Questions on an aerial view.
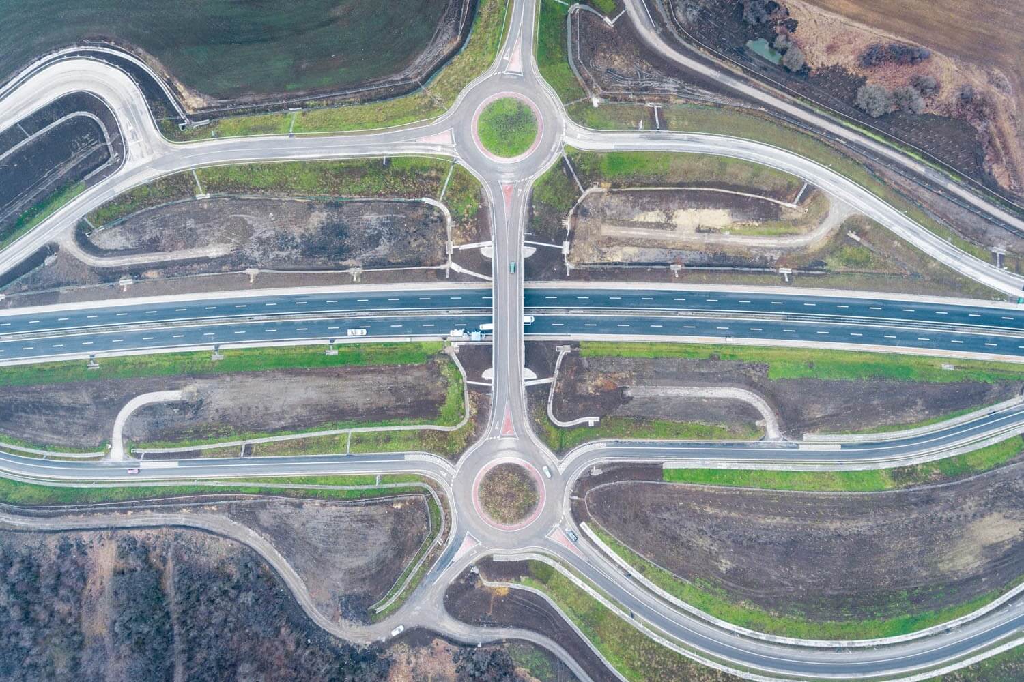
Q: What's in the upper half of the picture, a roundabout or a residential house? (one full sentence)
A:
Looking in the upper half of the picture, you will find a roundabout.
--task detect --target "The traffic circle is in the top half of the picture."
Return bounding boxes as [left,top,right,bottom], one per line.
[409,27,588,225]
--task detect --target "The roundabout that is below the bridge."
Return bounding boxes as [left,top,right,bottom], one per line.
[435,399,587,571]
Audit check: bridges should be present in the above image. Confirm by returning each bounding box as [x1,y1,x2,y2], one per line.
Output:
[493,226,524,398]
